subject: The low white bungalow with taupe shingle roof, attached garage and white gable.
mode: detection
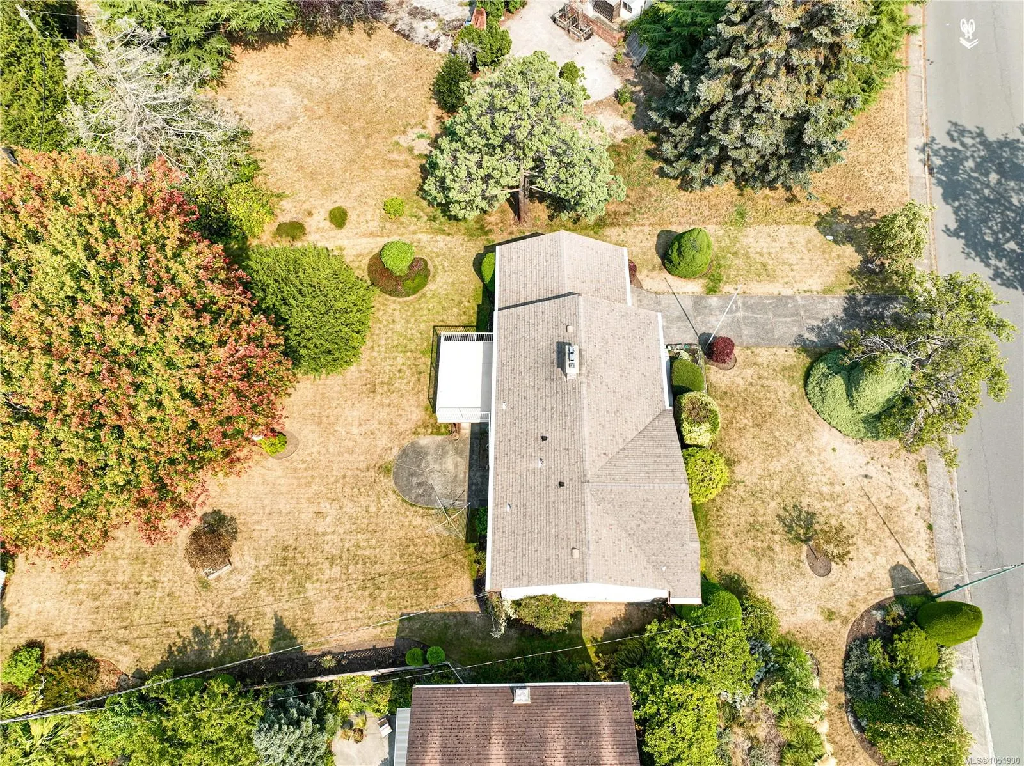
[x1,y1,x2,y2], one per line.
[484,231,702,612]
